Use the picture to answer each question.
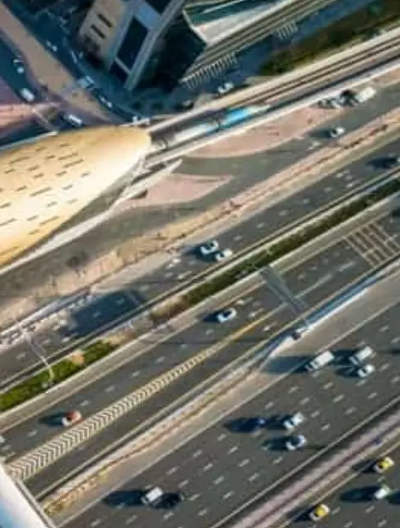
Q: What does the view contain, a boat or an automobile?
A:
automobile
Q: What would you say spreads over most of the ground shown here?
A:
paved ground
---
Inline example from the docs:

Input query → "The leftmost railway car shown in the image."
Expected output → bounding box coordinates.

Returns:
[150,133,188,156]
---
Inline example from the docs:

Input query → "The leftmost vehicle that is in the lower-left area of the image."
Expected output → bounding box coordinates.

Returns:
[61,409,82,425]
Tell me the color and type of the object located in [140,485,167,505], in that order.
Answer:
white vehicle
